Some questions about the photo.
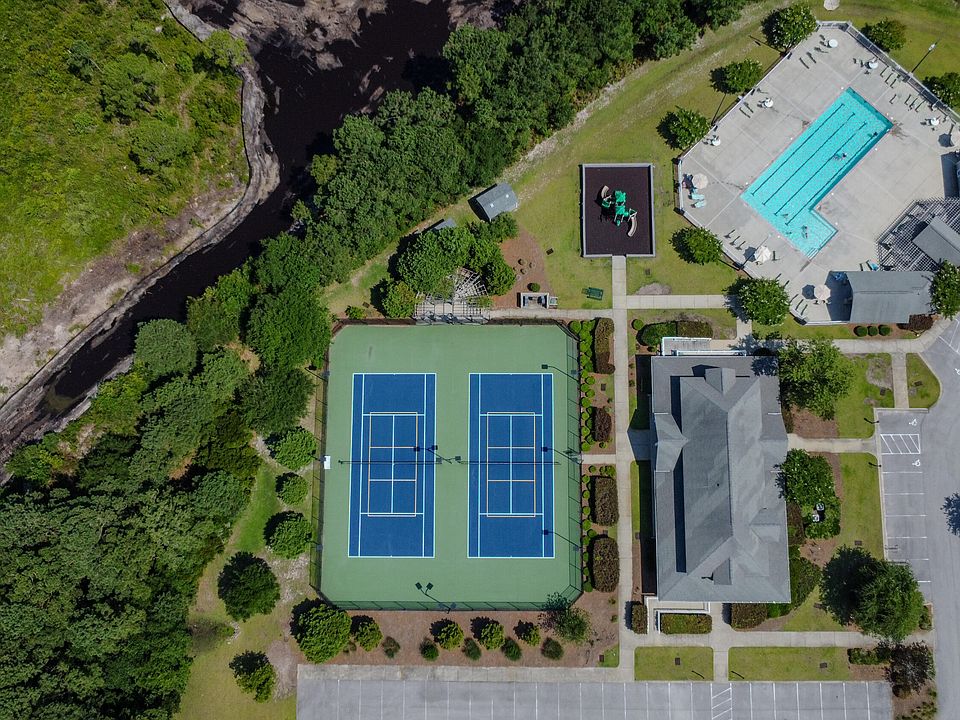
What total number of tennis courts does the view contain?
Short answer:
2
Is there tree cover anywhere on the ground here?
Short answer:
Yes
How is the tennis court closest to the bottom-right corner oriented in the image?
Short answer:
vertically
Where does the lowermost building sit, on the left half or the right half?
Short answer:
right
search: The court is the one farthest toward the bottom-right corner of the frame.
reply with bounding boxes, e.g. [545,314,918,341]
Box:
[469,373,560,558]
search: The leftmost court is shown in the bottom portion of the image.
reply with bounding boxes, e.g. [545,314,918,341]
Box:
[338,373,436,558]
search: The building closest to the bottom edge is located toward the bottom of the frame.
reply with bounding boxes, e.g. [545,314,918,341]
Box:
[645,338,791,634]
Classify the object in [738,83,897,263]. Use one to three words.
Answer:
swimming pool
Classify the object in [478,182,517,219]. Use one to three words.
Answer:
shed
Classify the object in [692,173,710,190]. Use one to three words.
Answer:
umbrella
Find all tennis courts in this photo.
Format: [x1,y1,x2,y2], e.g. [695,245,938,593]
[338,373,436,558]
[469,373,560,558]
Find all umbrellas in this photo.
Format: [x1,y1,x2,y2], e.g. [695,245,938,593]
[946,130,960,148]
[812,283,831,302]
[692,173,710,190]
[755,247,772,264]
